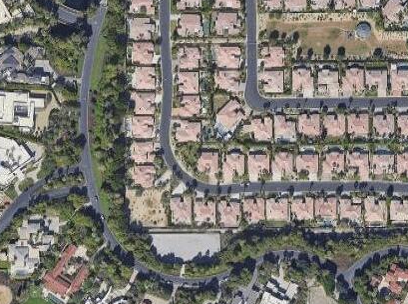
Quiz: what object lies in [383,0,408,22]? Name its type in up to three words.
house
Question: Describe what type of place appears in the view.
residential area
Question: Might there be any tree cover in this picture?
Yes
